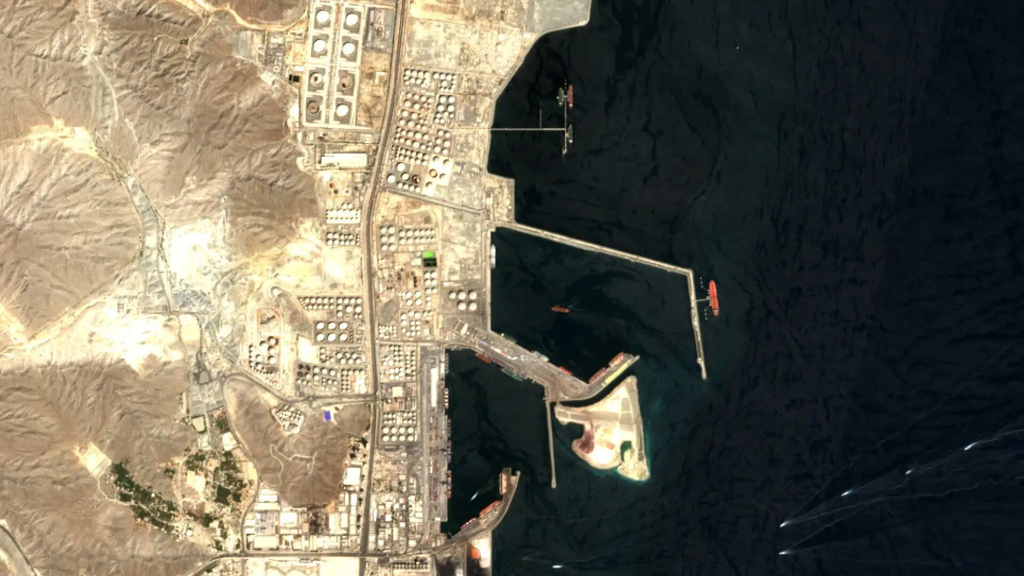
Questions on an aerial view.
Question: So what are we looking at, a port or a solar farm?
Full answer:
This looks like a port.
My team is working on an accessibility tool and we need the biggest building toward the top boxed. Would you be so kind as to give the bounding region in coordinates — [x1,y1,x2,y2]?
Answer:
[338,154,366,167]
